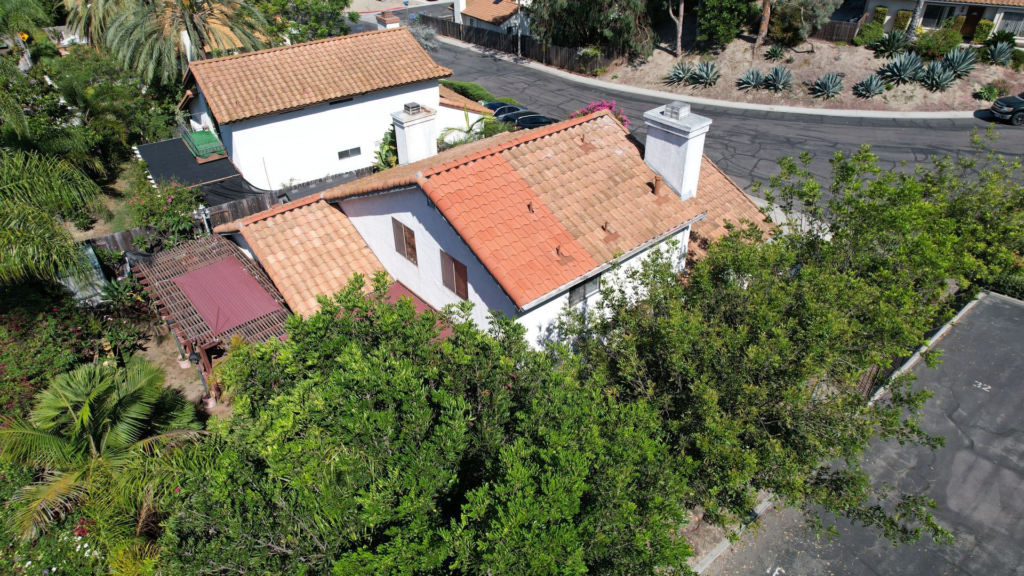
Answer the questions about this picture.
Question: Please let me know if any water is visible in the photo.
No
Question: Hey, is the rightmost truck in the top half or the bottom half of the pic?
top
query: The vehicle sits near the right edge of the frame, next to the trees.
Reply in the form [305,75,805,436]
[985,93,1024,126]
